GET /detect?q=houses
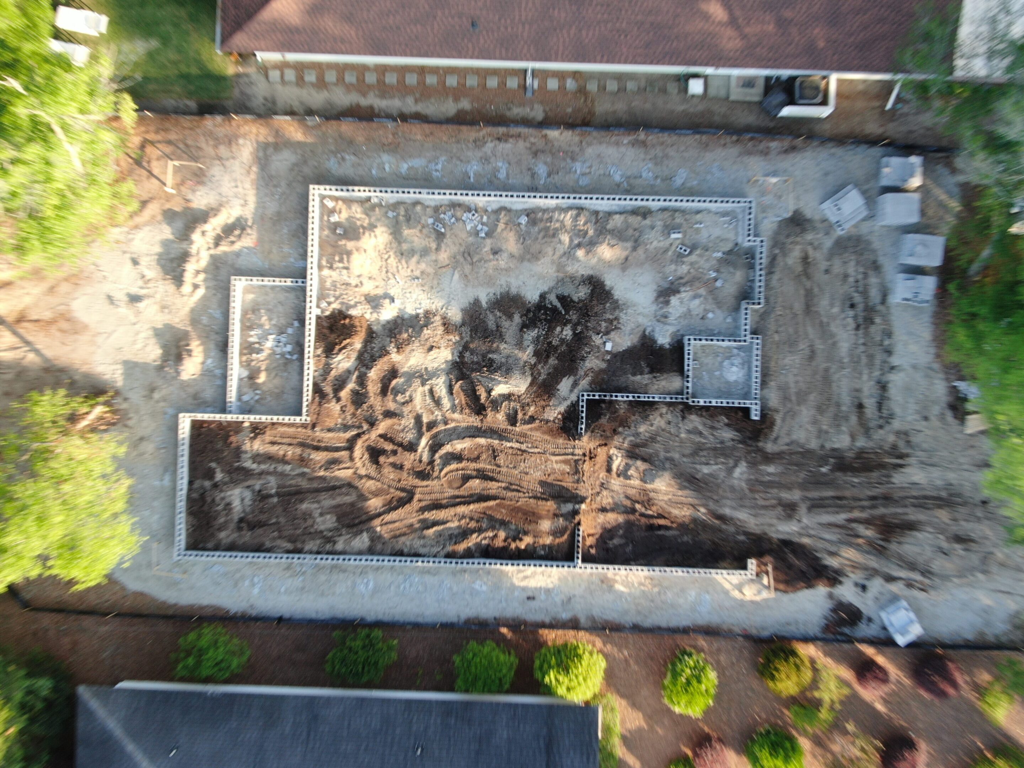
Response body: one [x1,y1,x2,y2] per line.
[73,683,603,768]
[214,0,976,94]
